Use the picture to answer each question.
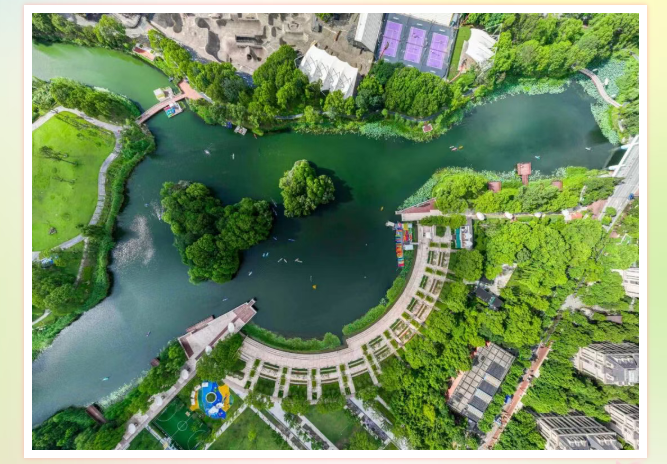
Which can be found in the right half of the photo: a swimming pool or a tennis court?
tennis court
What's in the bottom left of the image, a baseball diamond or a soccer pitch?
soccer pitch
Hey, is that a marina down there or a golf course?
marina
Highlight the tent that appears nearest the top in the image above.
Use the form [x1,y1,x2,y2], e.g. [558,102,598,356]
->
[462,27,495,67]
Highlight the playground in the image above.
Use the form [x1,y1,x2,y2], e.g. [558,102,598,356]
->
[190,381,233,420]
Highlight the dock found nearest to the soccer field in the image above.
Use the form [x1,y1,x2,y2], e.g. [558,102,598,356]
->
[178,298,257,364]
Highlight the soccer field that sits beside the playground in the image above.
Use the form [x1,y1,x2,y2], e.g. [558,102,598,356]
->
[148,395,213,458]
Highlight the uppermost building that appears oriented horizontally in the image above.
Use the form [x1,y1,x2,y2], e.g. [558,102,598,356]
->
[388,0,458,28]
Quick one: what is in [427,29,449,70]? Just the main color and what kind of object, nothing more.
purple tennis court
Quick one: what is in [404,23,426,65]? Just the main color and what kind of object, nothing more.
purple tennis court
